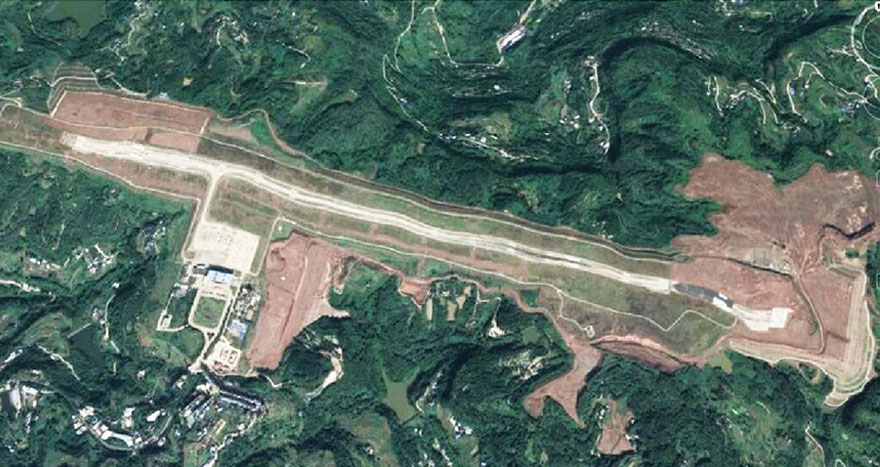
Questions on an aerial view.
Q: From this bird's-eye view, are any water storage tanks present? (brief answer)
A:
No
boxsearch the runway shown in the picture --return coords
[59,134,790,331]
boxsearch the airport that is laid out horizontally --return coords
[0,101,790,378]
